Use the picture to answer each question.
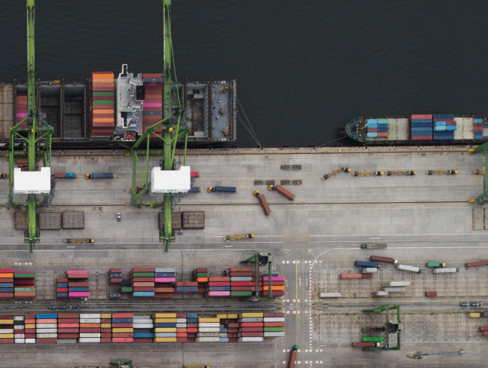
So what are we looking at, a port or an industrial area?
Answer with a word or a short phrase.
port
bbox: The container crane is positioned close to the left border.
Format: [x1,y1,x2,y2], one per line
[0,0,57,255]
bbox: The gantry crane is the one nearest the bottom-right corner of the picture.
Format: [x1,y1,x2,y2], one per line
[361,303,404,352]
